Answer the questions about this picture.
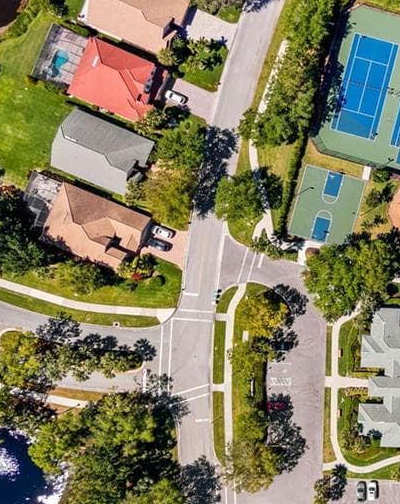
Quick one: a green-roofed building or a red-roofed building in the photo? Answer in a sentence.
The one in the frame is a red-roofed building.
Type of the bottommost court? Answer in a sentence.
The bottommost court in the image is a basketball court.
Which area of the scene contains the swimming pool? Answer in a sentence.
You can find the swimming pool in the top left area of the picture.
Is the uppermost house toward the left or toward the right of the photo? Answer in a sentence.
The uppermost house appears in the left half of the scene.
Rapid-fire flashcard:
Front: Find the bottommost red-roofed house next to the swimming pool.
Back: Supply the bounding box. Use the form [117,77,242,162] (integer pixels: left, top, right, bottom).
[68,36,159,121]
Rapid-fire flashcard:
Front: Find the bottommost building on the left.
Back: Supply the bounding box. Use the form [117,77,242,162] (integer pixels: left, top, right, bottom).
[42,182,154,266]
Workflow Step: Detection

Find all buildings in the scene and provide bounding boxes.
[42,182,154,266]
[68,36,159,121]
[51,107,157,195]
[359,308,400,447]
[83,0,194,55]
